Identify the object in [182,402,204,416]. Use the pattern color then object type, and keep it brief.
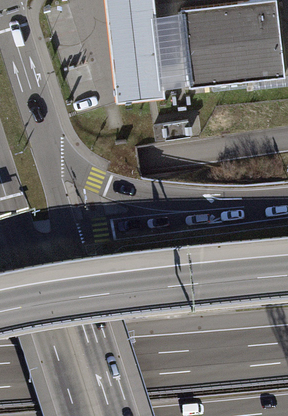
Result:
white vehicle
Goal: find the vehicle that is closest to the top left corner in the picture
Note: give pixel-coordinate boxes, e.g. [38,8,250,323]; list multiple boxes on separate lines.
[10,20,25,48]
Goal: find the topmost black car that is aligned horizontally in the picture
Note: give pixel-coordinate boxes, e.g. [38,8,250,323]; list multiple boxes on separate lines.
[114,184,136,196]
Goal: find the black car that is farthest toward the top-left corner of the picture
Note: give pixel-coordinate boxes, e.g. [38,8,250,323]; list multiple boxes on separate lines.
[32,98,44,123]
